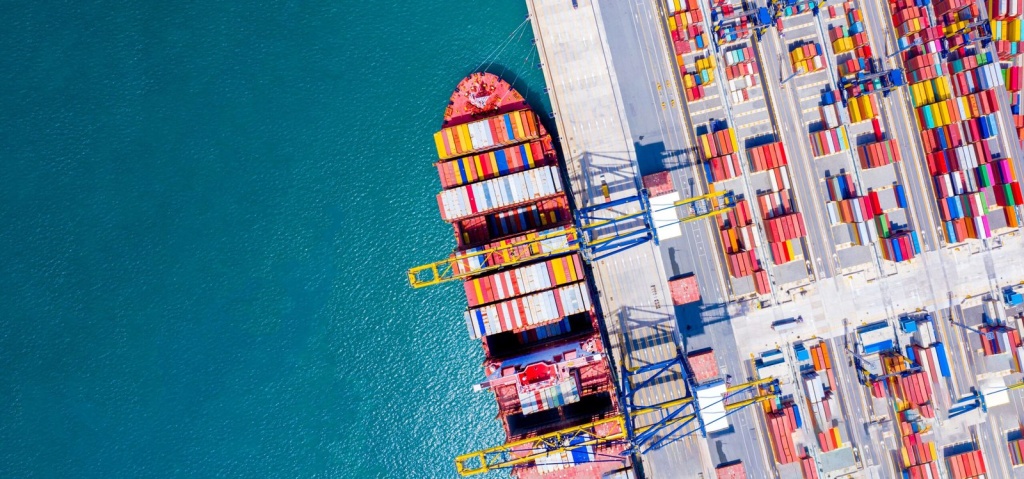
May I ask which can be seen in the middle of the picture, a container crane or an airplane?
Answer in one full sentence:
You can see a container crane in the middle of the picture.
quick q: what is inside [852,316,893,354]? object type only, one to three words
building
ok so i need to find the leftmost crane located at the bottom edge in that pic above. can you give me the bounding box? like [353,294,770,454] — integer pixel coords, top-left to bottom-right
[451,340,786,479]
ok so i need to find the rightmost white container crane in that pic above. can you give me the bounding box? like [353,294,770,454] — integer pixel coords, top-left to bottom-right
[939,374,1024,418]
